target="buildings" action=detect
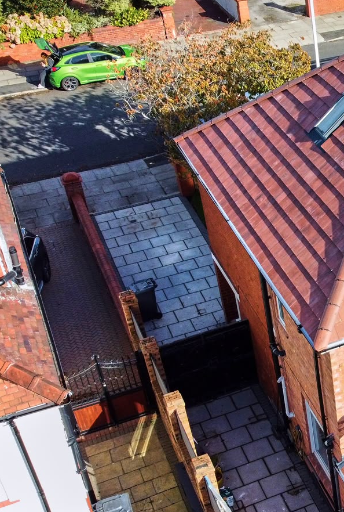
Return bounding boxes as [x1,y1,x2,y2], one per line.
[170,50,344,512]
[0,161,114,512]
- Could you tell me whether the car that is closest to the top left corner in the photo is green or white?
green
